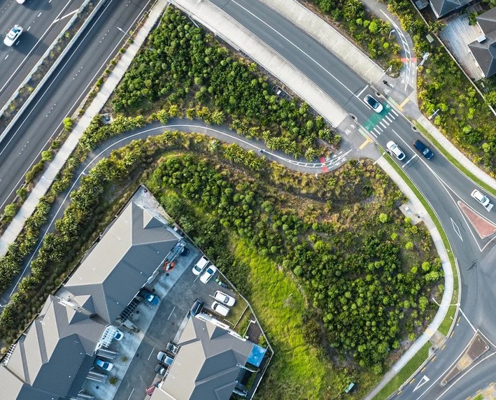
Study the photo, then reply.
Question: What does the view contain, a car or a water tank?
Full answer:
The image shows a car.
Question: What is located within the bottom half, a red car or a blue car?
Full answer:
You can see a blue car within the bottom half.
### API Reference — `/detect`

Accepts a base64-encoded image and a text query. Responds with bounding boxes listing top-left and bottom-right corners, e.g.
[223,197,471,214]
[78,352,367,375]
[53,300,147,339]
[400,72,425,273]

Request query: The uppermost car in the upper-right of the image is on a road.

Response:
[363,93,383,115]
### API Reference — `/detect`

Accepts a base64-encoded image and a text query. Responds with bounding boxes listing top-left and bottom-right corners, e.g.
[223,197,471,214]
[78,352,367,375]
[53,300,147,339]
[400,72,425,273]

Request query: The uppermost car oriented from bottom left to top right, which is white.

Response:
[4,25,24,47]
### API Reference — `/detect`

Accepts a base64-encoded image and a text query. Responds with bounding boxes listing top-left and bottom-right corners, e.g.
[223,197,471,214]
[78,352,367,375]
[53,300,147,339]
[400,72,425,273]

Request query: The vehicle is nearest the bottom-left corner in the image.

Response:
[92,357,117,373]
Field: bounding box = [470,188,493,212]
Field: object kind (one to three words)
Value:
truck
